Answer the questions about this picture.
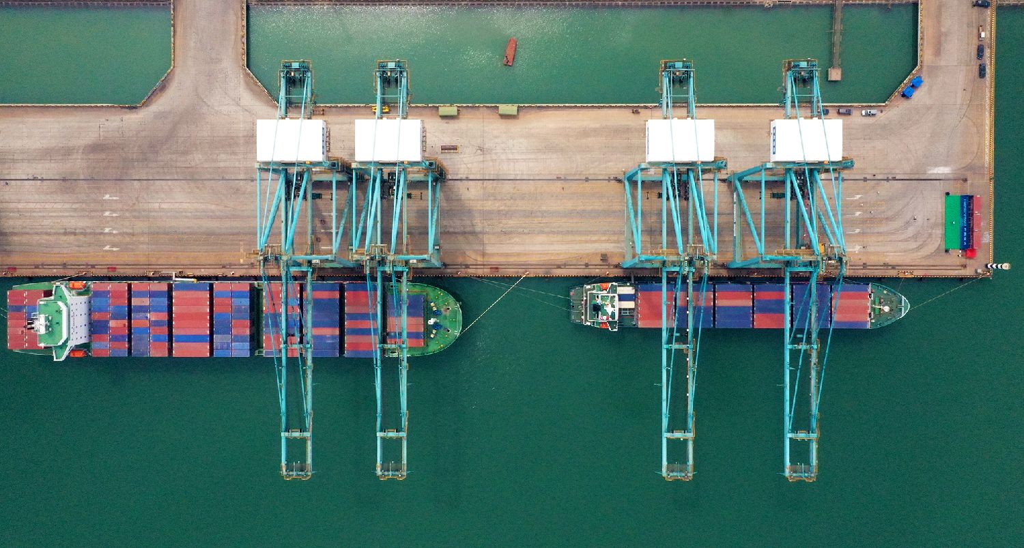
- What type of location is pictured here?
port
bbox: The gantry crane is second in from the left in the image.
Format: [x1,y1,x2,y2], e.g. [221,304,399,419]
[347,58,458,480]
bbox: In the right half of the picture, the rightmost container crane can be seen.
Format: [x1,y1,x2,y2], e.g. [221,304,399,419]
[715,57,858,482]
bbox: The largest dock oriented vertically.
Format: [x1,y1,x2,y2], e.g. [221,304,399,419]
[824,3,842,82]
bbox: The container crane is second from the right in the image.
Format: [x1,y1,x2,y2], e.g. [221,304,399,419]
[608,58,732,481]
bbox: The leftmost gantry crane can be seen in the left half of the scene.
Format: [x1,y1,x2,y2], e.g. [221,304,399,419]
[249,59,368,480]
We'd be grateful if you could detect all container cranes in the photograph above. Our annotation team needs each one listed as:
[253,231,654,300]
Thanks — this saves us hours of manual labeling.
[347,58,458,480]
[249,59,368,480]
[715,57,858,482]
[608,58,732,481]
